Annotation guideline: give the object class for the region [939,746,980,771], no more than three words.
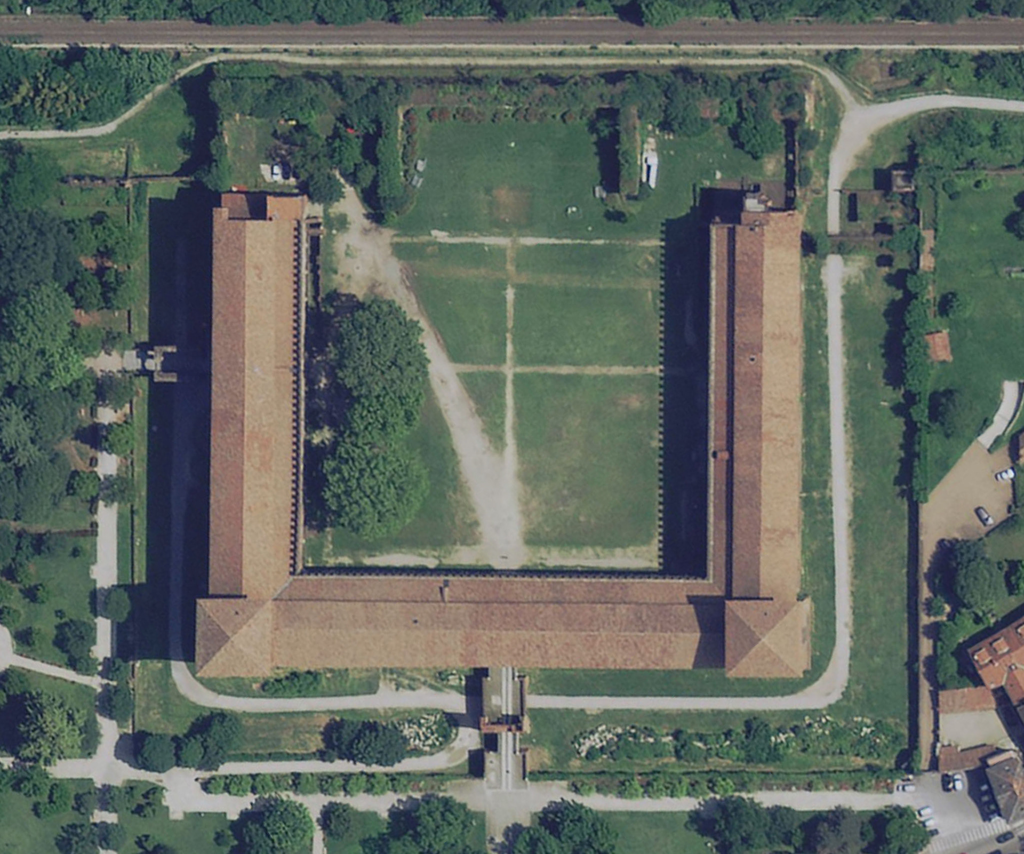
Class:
shed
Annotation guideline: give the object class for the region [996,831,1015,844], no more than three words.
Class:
vehicle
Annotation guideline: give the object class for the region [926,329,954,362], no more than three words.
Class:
house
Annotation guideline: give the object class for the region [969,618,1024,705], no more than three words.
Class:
house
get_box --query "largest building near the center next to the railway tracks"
[197,184,811,677]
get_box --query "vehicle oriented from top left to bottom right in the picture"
[977,507,992,526]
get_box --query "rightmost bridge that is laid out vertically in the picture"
[482,668,527,790]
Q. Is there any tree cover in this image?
Yes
